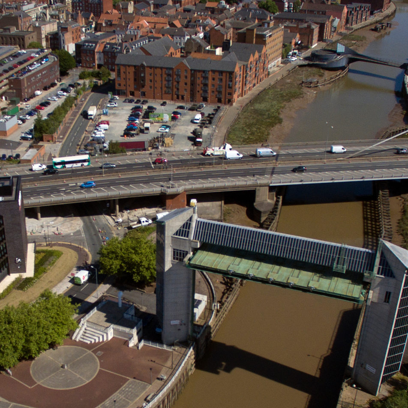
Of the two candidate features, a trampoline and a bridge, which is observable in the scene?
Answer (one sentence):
Visible in the photo is a bridge.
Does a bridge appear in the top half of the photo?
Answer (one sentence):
Yes, the scene does show a bridge in the top half of the photo.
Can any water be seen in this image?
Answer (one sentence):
Yes, there is water in the image.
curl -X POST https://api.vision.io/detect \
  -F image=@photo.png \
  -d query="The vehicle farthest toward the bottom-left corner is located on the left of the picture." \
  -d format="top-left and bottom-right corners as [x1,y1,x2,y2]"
[73,268,90,285]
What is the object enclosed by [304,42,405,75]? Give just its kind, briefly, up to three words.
bridge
